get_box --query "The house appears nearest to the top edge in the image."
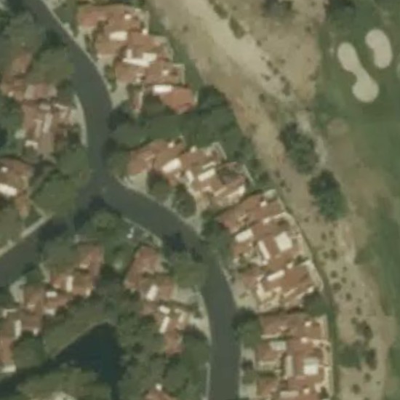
[74,0,150,40]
